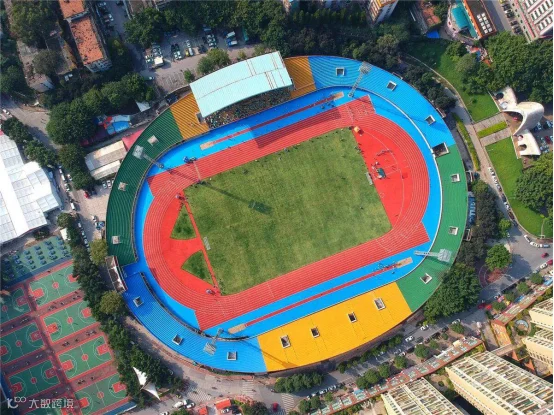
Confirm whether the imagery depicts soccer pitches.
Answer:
Yes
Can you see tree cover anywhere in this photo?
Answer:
Yes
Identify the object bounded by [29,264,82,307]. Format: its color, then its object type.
green basketball court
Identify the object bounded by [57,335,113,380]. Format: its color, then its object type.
green basketball court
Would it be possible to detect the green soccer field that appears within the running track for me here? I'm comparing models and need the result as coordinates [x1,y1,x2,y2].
[170,127,391,295]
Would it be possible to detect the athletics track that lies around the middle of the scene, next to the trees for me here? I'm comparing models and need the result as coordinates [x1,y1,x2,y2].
[143,94,431,330]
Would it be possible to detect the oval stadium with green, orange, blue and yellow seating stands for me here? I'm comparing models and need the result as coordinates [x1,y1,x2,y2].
[105,51,470,374]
